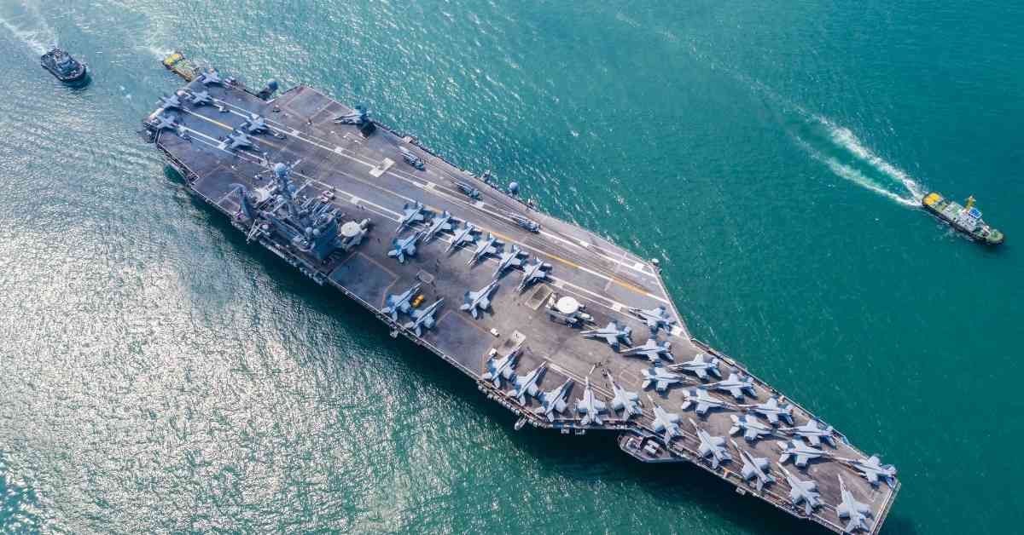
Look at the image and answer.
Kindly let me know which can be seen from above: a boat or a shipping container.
boat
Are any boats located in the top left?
Yes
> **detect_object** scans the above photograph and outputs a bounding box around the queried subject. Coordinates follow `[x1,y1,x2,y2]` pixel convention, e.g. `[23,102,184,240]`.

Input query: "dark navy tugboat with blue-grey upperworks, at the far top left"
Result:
[38,46,91,86]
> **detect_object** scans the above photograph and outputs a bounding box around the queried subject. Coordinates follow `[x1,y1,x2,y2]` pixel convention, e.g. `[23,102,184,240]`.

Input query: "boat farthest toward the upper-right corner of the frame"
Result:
[921,193,1007,241]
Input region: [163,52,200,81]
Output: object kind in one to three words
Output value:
boat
